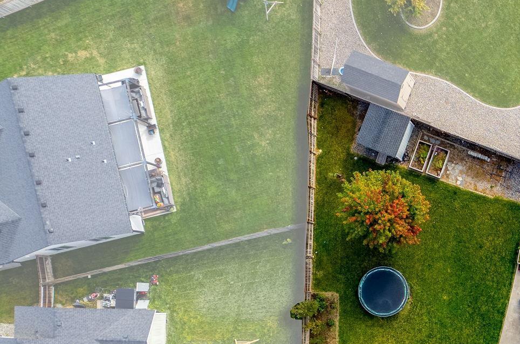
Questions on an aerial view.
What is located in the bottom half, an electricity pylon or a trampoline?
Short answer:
trampoline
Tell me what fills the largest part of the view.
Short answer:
grass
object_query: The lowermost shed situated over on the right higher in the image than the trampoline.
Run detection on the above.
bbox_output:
[357,104,415,163]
